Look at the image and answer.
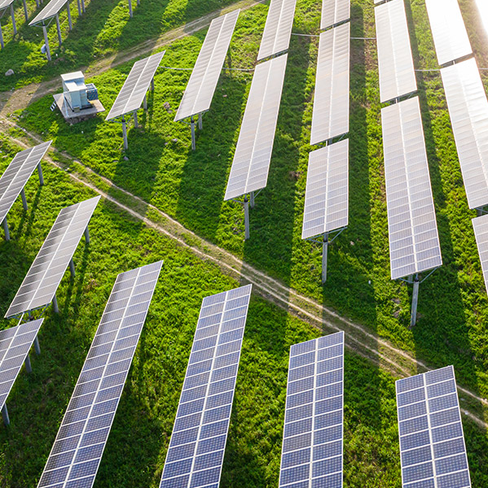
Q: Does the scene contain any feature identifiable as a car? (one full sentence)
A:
No, no car is visible in the scene.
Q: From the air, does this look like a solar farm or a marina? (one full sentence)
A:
It's a solar farm.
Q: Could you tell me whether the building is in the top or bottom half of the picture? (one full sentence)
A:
You can find the building in the top half.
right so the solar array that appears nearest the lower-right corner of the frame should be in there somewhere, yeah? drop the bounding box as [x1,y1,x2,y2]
[396,367,471,488]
